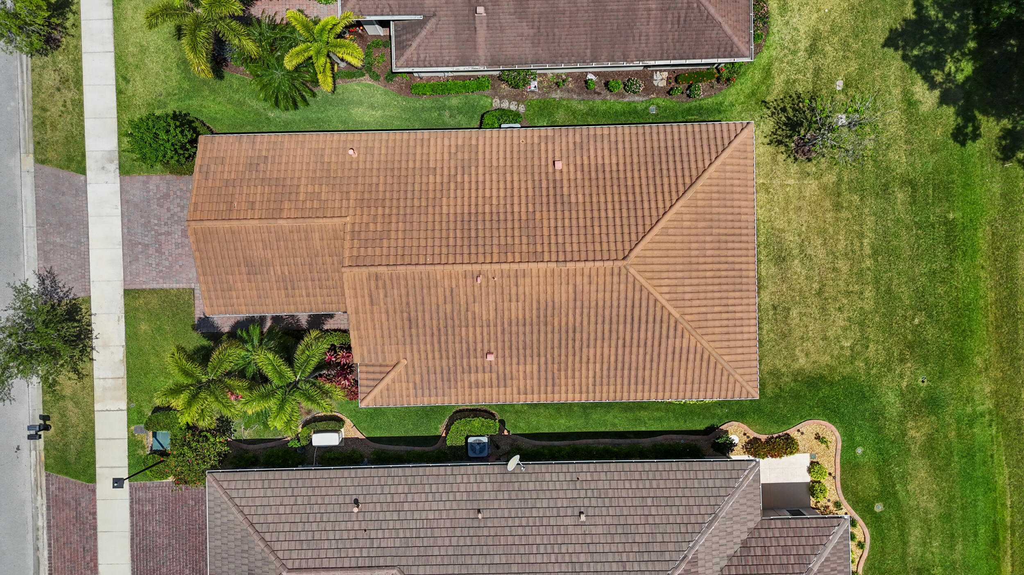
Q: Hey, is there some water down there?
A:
No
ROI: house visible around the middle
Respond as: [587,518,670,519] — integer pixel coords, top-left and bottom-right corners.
[186,121,761,409]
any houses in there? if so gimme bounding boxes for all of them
[186,121,761,409]
[206,461,851,575]
[338,0,753,80]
